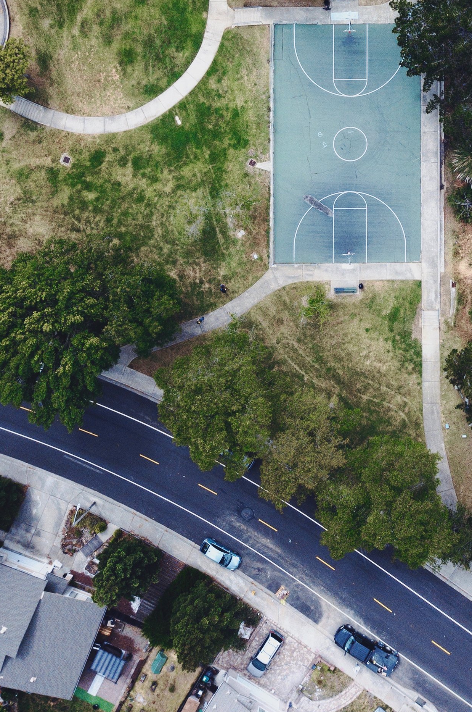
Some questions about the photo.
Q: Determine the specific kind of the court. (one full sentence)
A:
What you see as the court is a basketball court.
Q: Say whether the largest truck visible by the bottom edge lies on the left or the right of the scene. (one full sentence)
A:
You can find the largest truck visible by the bottom edge on the right side of the picture.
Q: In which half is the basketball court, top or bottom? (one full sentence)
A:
The basketball court is in the top half of the image.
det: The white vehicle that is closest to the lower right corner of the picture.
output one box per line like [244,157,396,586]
[248,633,283,679]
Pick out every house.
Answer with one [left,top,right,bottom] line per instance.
[197,662,295,712]
[0,541,110,702]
